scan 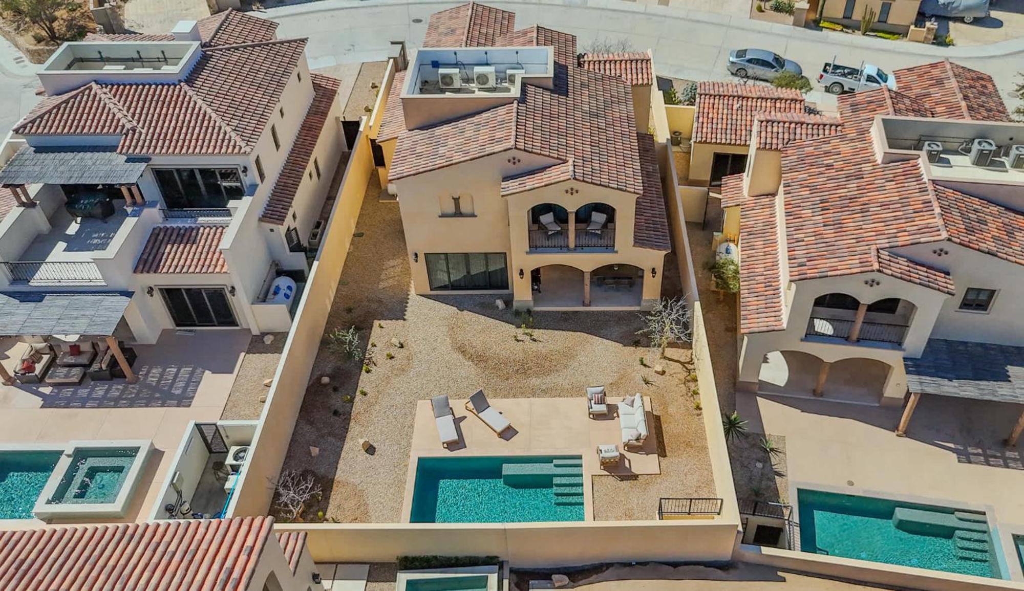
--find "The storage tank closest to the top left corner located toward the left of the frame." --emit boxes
[271,269,302,304]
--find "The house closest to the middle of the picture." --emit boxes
[375,0,675,308]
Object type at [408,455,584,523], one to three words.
swimming pool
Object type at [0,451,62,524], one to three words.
swimming pool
